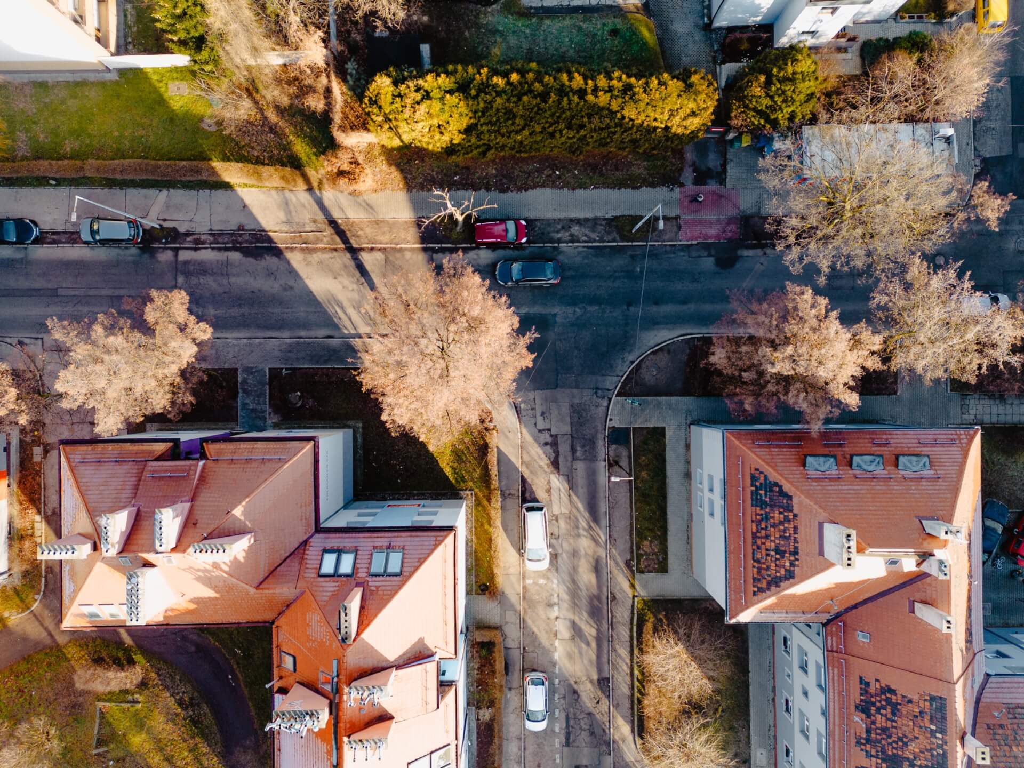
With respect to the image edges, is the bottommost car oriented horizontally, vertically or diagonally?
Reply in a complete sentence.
Seen from above, the bottommost car lies vertically.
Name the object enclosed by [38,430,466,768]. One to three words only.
house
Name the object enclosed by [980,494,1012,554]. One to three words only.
car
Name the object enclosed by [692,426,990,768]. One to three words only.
house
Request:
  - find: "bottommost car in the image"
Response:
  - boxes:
[522,669,550,728]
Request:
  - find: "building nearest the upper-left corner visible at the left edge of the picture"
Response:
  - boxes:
[0,0,118,70]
